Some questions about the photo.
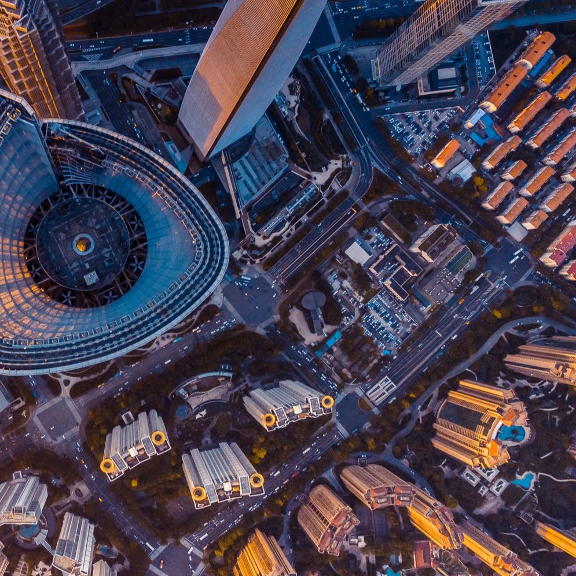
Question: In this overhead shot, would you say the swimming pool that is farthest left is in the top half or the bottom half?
bottom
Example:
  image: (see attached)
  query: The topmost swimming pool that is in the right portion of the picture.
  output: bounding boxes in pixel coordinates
[498,426,524,440]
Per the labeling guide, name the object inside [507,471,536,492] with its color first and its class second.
blue swimming pool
